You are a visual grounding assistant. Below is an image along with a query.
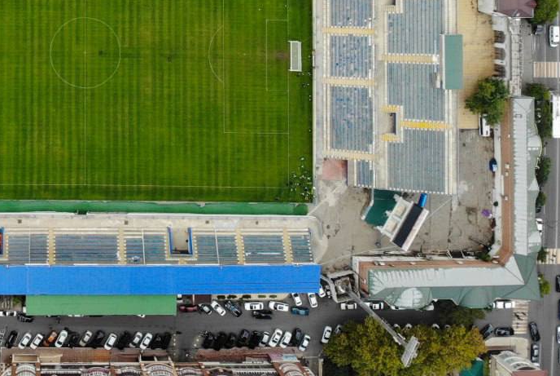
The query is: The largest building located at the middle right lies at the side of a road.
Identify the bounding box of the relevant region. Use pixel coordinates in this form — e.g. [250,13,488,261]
[347,97,542,317]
